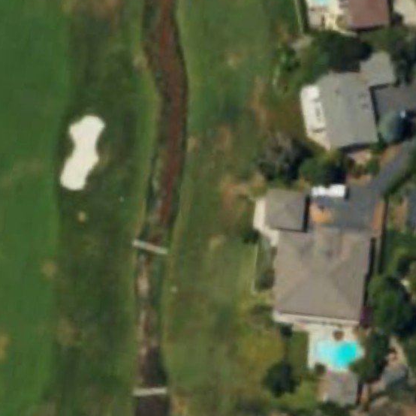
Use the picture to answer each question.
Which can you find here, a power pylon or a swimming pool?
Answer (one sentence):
Of the two, only a swimming pool appears.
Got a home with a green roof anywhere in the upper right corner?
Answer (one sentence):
No, looking in the upper right corner, there is no home with a green roof.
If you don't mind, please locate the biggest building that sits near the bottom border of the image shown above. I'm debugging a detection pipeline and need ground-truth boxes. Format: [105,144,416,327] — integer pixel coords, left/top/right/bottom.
[322,369,360,405]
